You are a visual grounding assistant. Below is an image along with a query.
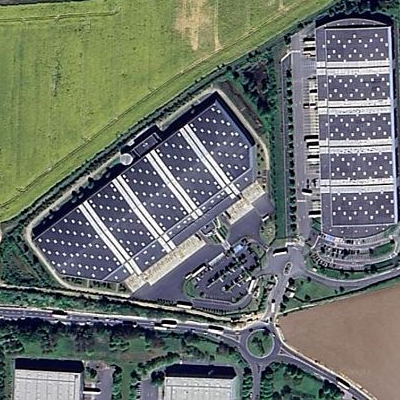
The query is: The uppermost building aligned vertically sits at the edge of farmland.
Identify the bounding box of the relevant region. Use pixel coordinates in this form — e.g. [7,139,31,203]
[316,17,400,238]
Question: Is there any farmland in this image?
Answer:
Yes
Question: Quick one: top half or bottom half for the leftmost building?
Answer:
bottom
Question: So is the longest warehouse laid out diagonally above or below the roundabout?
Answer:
above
